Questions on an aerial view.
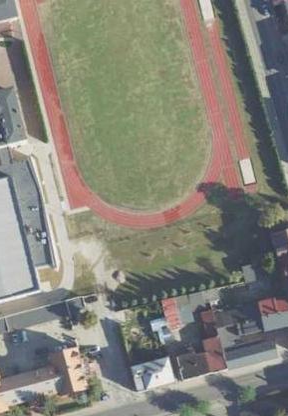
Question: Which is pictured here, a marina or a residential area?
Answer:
residential area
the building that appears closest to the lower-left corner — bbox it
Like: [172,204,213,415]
[0,346,88,415]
